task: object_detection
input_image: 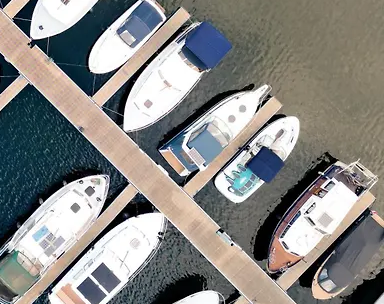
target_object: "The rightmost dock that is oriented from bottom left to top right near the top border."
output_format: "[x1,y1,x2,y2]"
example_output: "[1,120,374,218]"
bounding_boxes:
[89,6,191,111]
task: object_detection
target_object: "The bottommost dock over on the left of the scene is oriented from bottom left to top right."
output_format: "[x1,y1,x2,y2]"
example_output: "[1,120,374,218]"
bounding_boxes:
[17,178,143,304]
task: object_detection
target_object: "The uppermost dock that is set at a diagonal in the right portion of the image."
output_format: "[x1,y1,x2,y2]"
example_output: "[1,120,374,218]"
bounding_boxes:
[182,96,284,202]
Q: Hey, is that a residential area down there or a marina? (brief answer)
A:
marina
